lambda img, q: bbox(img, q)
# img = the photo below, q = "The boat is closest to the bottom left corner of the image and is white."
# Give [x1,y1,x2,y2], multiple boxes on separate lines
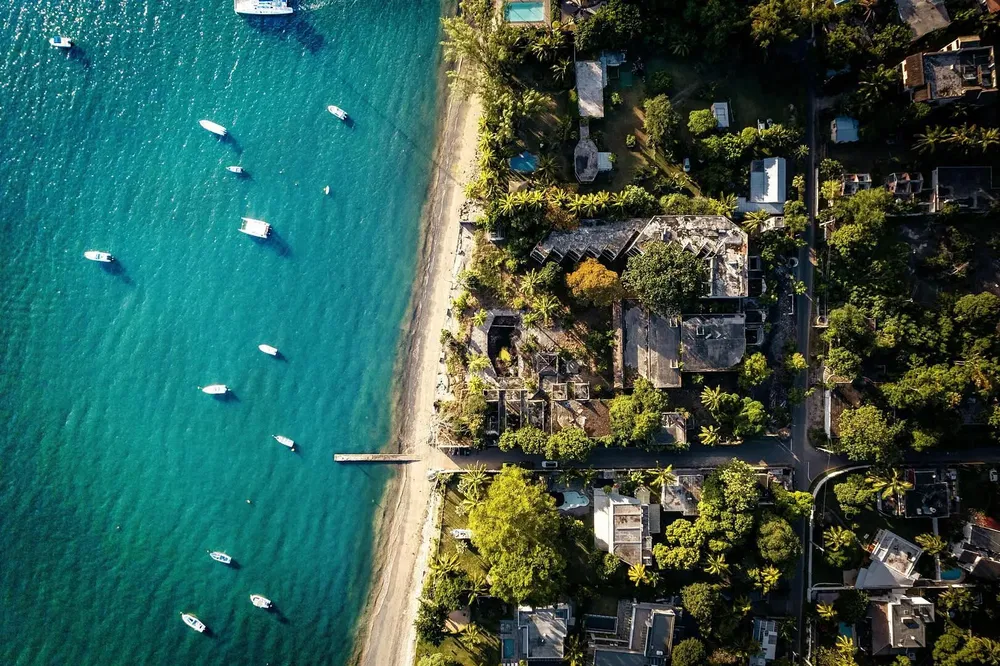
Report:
[182,612,207,634]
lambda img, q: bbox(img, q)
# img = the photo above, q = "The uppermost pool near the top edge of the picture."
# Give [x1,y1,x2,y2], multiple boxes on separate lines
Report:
[497,0,552,27]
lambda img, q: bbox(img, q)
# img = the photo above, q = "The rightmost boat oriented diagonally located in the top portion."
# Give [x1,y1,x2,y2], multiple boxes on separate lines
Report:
[328,105,350,121]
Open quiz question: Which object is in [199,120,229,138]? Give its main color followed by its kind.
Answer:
white boat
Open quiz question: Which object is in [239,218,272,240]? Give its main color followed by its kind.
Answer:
white boat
